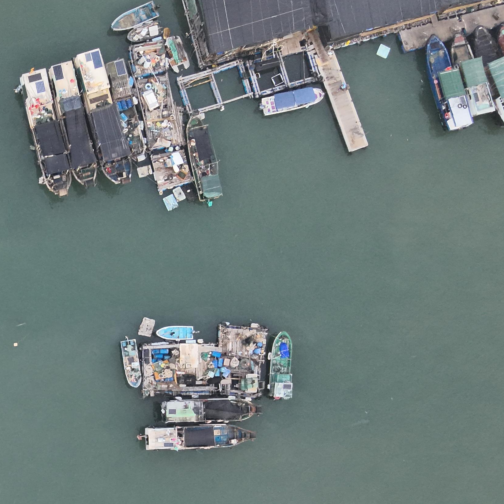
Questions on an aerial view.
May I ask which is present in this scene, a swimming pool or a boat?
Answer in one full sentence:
I can see a boat in this picture.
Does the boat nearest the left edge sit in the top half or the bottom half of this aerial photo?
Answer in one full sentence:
You can find the boat nearest the left edge in the top half.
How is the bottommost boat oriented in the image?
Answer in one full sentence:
What the image shows is the bottommost boat lying from left to right.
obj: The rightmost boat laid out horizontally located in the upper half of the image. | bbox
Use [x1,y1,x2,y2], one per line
[258,87,325,117]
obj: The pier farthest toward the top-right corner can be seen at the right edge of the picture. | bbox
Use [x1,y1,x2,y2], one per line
[462,5,504,35]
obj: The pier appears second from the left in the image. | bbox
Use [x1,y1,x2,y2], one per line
[395,14,465,55]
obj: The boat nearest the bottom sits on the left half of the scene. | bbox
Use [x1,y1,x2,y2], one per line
[136,424,258,450]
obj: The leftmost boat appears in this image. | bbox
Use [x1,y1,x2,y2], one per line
[13,68,72,197]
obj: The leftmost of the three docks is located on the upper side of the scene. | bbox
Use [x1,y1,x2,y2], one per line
[307,26,368,154]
